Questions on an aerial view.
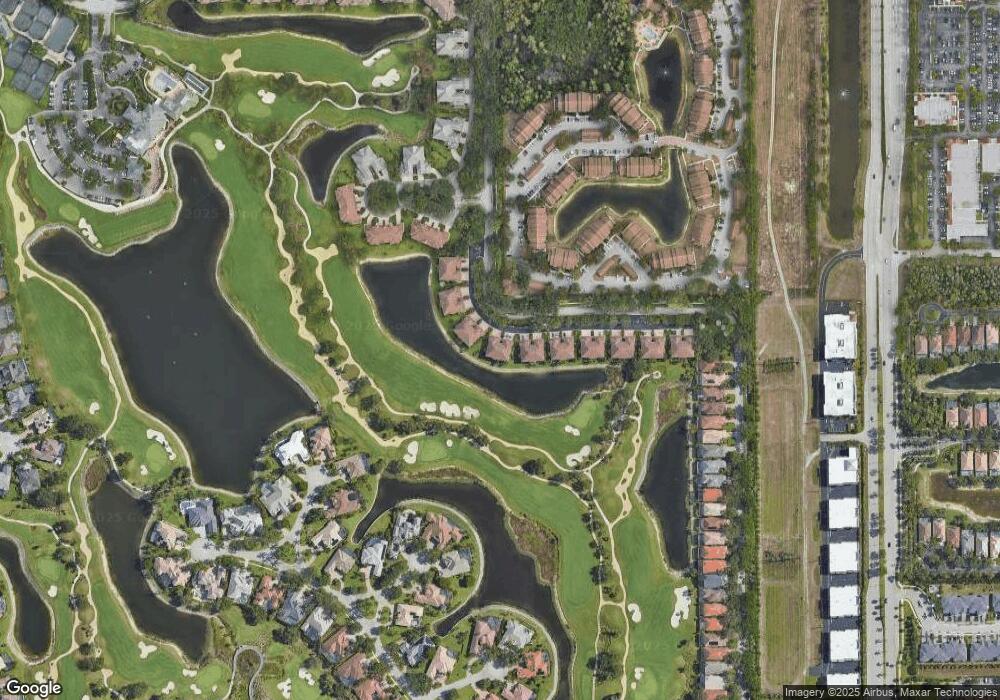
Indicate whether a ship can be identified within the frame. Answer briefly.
No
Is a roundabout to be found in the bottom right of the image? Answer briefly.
No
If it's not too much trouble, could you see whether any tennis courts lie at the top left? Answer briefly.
Yes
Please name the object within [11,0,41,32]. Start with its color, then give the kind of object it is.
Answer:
gray tennis court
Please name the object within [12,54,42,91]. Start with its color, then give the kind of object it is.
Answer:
gray tennis court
